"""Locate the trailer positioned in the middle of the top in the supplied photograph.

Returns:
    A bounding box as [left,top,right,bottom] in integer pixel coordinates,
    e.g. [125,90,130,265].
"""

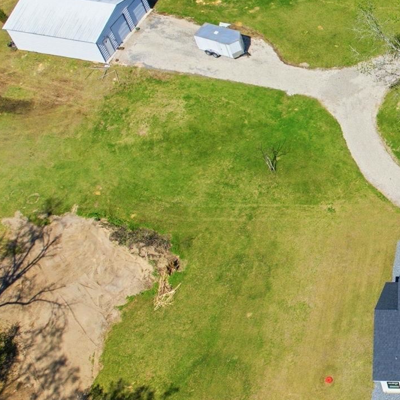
[195,26,255,59]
